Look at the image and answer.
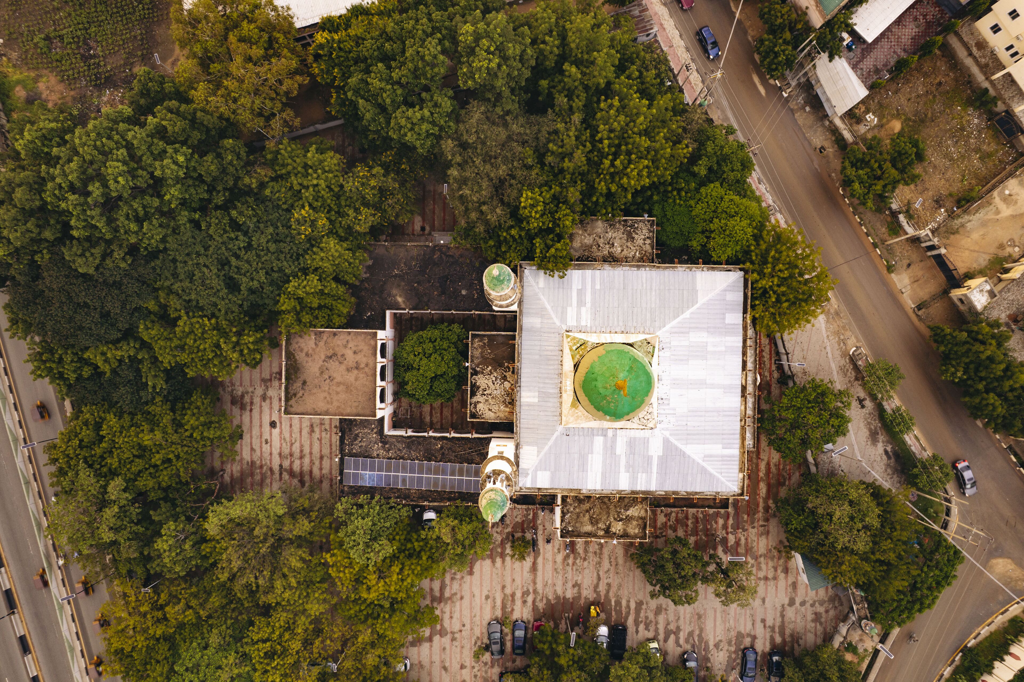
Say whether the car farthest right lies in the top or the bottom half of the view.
bottom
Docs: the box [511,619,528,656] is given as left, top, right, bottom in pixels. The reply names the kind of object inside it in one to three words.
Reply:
car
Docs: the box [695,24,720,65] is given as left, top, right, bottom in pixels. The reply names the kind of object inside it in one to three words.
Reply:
car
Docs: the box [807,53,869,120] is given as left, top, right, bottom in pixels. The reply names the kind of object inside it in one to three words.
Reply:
shed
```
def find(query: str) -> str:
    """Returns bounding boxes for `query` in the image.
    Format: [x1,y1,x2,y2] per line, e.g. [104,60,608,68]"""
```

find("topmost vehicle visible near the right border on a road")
[952,457,977,496]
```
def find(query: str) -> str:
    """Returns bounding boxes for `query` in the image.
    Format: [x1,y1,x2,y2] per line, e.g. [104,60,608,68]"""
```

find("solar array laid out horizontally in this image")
[342,454,483,494]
